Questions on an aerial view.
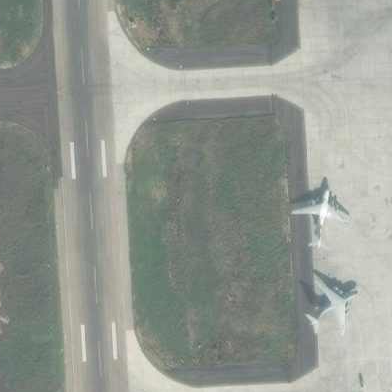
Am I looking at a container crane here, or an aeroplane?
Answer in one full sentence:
Of the two, only an aeroplane appears.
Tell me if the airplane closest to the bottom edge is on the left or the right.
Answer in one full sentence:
It is on the right.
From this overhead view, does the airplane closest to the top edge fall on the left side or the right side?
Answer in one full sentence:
The airplane closest to the top edge appears in the right half of the scene.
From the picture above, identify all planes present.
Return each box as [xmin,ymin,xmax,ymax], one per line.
[302,279,356,334]
[292,189,353,247]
